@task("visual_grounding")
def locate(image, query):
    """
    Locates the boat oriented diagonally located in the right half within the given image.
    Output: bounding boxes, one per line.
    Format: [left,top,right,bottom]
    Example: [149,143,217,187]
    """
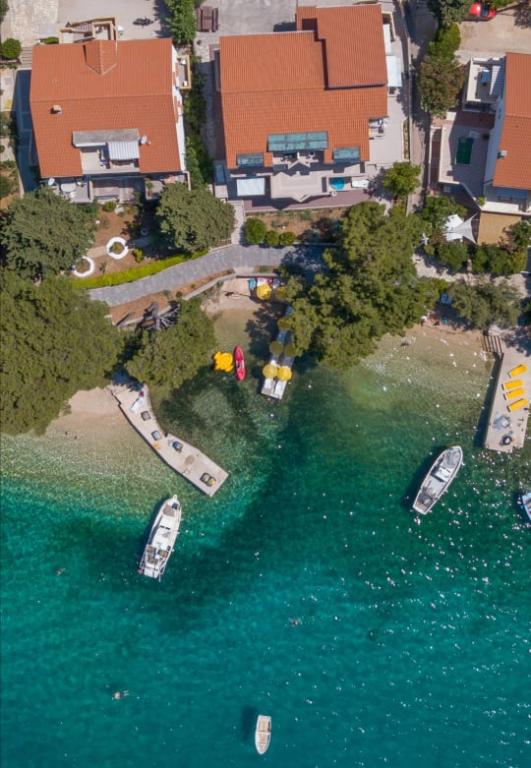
[410,447,466,520]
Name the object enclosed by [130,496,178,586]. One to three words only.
boat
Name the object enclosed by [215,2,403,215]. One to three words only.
house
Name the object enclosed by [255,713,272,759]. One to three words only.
boat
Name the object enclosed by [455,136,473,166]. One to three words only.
swimming pool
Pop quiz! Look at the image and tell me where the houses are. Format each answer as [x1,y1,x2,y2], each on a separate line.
[424,52,531,250]
[215,2,403,215]
[28,16,193,213]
